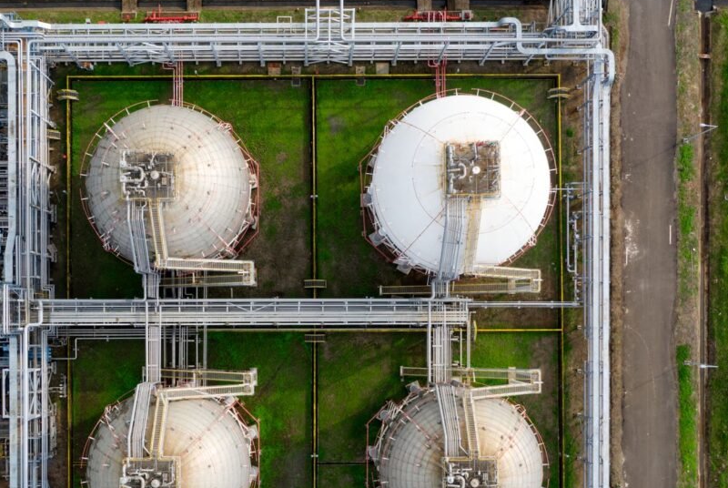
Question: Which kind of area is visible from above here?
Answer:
industrial area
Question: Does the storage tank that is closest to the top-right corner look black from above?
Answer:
No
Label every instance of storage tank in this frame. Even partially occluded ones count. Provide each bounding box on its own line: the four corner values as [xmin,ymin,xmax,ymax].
[365,374,551,488]
[359,86,560,283]
[76,96,262,280]
[77,374,263,488]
